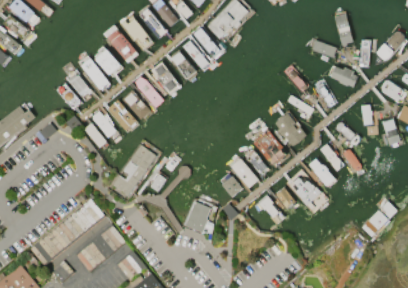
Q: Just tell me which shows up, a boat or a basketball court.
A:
boat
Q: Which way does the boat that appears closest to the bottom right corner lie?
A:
on a diagonal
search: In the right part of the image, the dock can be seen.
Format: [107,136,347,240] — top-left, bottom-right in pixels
[236,50,408,210]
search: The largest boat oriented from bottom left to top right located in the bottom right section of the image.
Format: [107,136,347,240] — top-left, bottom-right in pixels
[360,193,401,236]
